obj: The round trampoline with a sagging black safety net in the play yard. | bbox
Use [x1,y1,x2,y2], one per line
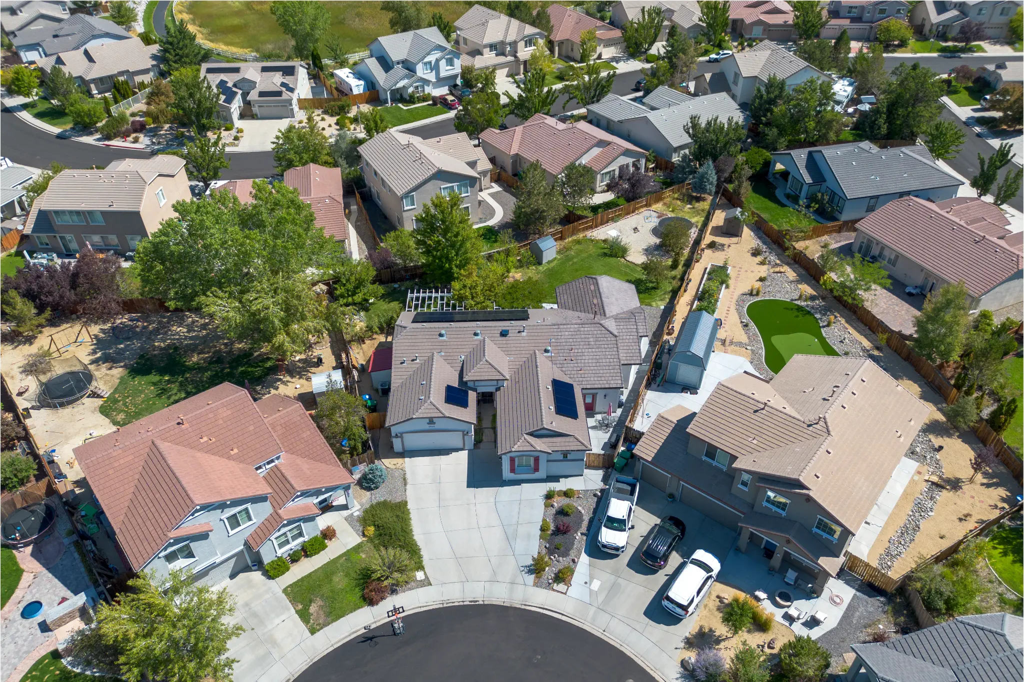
[26,351,101,410]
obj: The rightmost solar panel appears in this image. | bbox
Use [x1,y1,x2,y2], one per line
[553,378,578,418]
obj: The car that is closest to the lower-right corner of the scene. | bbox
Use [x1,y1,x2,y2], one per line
[662,552,716,621]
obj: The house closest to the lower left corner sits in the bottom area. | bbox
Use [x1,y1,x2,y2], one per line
[72,380,356,596]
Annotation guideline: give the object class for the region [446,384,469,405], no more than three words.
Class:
solar panel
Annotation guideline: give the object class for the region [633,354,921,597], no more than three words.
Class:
house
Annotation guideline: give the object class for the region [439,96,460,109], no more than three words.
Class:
vehicle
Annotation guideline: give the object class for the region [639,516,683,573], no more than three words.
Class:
car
